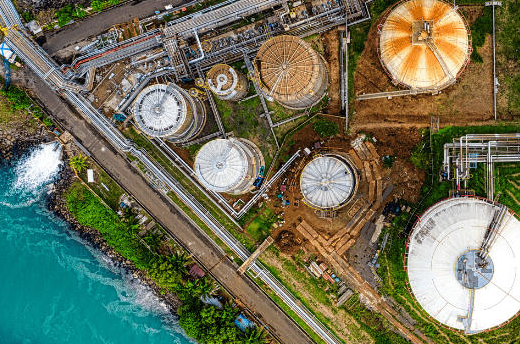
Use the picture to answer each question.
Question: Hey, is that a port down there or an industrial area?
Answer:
industrial area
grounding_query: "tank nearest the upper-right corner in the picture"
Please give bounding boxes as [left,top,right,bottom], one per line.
[358,0,473,100]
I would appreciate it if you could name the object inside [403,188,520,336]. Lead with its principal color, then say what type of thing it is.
white storage tank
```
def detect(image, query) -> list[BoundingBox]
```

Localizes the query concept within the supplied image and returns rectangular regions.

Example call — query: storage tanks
[205,62,252,103]
[403,188,520,336]
[300,151,362,216]
[249,34,330,111]
[191,136,264,195]
[358,0,473,100]
[128,81,207,143]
